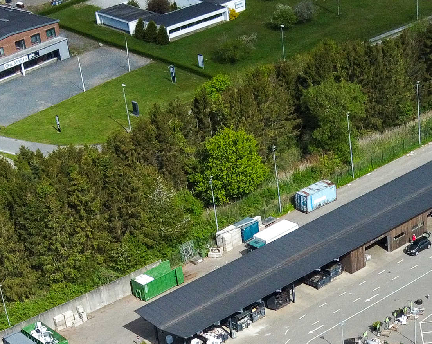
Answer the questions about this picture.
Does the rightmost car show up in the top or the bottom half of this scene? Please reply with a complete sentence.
The rightmost car is in the bottom half of the image.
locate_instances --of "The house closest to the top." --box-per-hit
[96,0,247,42]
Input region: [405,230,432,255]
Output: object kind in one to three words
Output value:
car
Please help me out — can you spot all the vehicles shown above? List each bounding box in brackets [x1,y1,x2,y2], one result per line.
[245,219,306,256]
[405,230,432,255]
